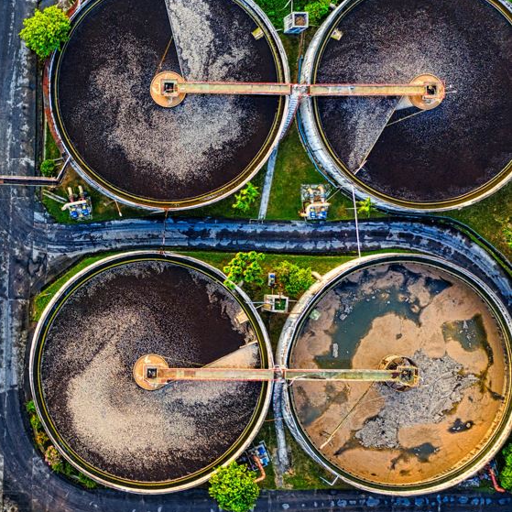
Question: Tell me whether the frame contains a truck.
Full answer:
No, I find no truck anywhere in the image.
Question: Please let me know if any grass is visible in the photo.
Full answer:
Yes, grass shows up in the scene.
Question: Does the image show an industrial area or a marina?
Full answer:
The area seen from above is an industrial area.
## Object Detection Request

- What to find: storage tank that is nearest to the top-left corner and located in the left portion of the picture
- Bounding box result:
[40,0,296,210]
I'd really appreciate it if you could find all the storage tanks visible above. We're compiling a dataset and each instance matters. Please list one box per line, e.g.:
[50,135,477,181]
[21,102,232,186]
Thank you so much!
[290,0,512,212]
[28,248,278,495]
[40,0,296,210]
[271,250,512,496]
